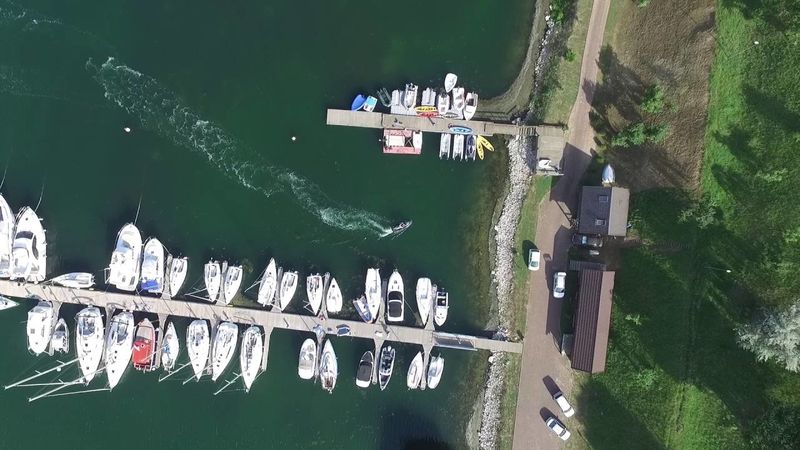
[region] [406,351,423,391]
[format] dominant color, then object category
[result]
white boat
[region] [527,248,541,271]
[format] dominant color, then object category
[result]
white car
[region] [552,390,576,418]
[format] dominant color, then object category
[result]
white car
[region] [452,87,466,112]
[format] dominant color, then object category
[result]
white boat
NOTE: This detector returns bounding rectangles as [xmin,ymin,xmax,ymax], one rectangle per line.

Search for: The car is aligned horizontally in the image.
[571,234,604,248]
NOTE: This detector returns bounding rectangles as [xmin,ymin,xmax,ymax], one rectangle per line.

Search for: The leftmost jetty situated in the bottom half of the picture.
[0,255,439,389]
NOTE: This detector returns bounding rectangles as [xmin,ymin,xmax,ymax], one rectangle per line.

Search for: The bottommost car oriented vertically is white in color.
[552,271,566,299]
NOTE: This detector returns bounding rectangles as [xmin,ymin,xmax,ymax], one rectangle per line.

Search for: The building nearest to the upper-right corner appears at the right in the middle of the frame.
[575,186,631,237]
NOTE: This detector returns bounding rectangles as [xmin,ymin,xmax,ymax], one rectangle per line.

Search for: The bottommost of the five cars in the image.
[545,415,571,441]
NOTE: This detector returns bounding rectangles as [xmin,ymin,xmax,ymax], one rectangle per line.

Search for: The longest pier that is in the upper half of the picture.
[327,109,538,137]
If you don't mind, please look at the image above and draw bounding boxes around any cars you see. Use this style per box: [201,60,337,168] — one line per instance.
[552,271,566,299]
[527,248,541,271]
[571,234,604,248]
[552,390,576,418]
[545,415,571,441]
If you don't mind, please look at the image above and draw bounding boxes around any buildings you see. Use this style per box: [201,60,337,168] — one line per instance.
[575,186,631,237]
[570,269,616,376]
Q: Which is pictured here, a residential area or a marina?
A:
marina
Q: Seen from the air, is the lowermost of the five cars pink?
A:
No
